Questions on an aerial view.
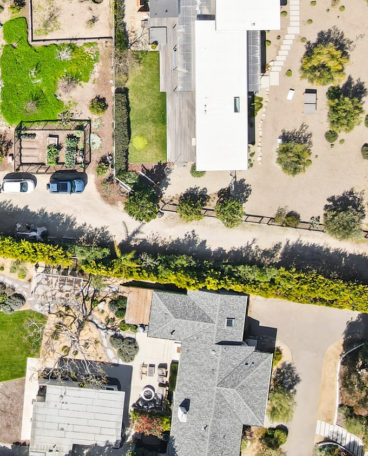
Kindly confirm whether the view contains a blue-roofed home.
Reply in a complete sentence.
No, the picture doesn't show any blue-roofed home.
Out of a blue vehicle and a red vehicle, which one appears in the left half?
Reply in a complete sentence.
You can see a blue vehicle in the left half.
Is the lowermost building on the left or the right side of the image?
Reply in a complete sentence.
It is on the left.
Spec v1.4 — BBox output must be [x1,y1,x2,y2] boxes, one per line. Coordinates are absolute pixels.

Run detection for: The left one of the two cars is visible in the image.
[1,177,35,195]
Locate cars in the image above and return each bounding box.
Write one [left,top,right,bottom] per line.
[48,178,83,196]
[1,177,35,195]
